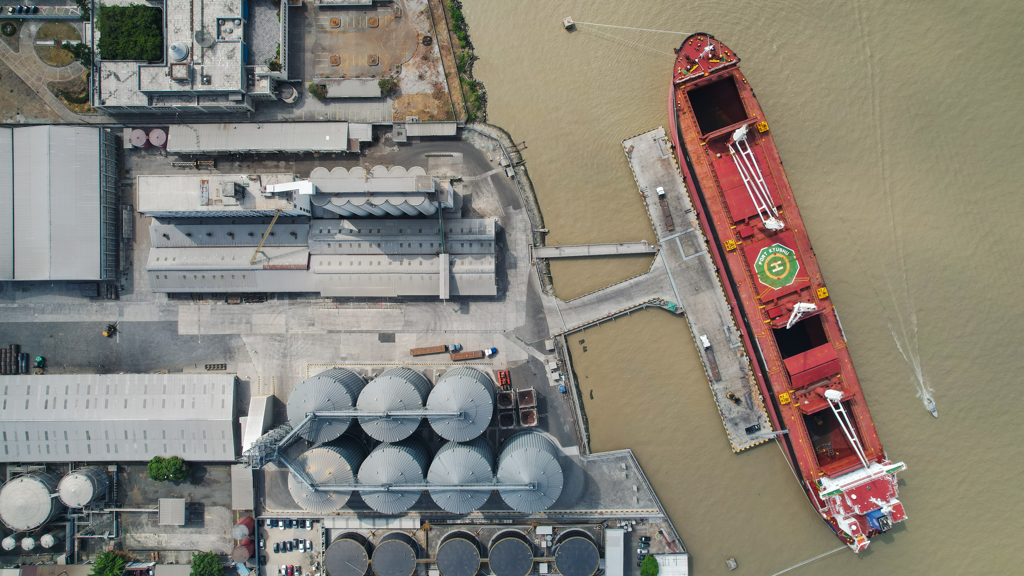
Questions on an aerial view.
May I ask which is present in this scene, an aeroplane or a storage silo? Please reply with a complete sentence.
Looking from above, you can make out a storage silo.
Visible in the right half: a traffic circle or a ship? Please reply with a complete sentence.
You can see a ship in the right half.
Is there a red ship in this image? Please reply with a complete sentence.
Yes, the photo shows a red ship.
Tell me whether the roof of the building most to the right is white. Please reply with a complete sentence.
Yes, white is the color of the roof of the building most to the right.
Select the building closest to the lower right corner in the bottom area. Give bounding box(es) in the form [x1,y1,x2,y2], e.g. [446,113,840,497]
[651,548,688,576]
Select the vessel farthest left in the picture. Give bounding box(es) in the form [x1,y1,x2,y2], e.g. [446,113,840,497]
[668,31,909,553]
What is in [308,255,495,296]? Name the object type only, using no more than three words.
building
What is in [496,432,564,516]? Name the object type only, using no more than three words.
silo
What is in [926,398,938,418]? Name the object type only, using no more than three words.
boat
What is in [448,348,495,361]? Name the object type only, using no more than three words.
vehicle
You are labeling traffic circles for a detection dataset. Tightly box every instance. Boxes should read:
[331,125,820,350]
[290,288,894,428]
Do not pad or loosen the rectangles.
[34,20,80,66]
